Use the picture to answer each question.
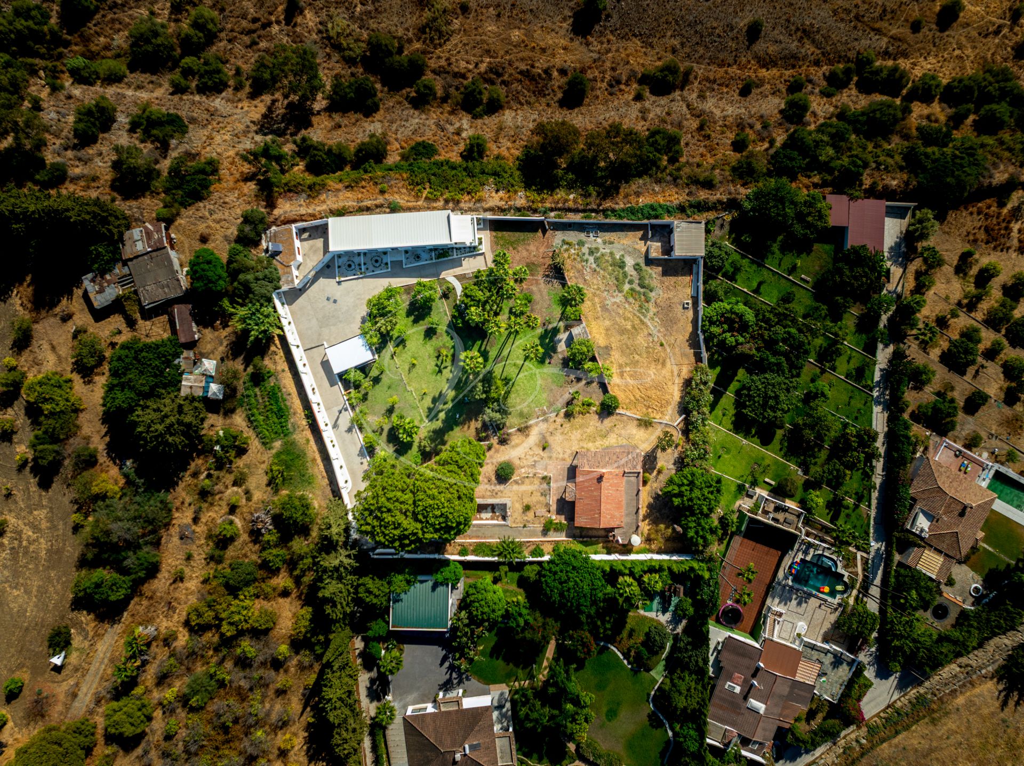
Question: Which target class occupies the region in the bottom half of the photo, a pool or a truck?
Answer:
pool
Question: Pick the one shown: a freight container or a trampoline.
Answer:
trampoline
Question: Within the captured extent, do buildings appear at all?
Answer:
Yes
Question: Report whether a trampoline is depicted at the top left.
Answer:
No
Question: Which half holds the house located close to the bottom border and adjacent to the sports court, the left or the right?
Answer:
right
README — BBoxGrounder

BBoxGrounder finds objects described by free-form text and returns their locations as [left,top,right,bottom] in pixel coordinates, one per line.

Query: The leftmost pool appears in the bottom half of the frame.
[472,499,512,526]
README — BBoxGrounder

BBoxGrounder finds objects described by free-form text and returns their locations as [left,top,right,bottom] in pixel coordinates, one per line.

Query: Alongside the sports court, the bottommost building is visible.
[703,632,822,759]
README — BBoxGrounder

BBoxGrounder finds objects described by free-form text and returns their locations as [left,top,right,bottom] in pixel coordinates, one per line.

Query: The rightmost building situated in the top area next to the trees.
[826,195,885,256]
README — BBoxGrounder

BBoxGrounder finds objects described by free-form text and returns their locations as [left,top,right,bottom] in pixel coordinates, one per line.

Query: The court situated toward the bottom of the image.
[715,535,785,633]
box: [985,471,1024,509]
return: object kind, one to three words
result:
swimming pool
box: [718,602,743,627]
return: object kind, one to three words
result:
trampoline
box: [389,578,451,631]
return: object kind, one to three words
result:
building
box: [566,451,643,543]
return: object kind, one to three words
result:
house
